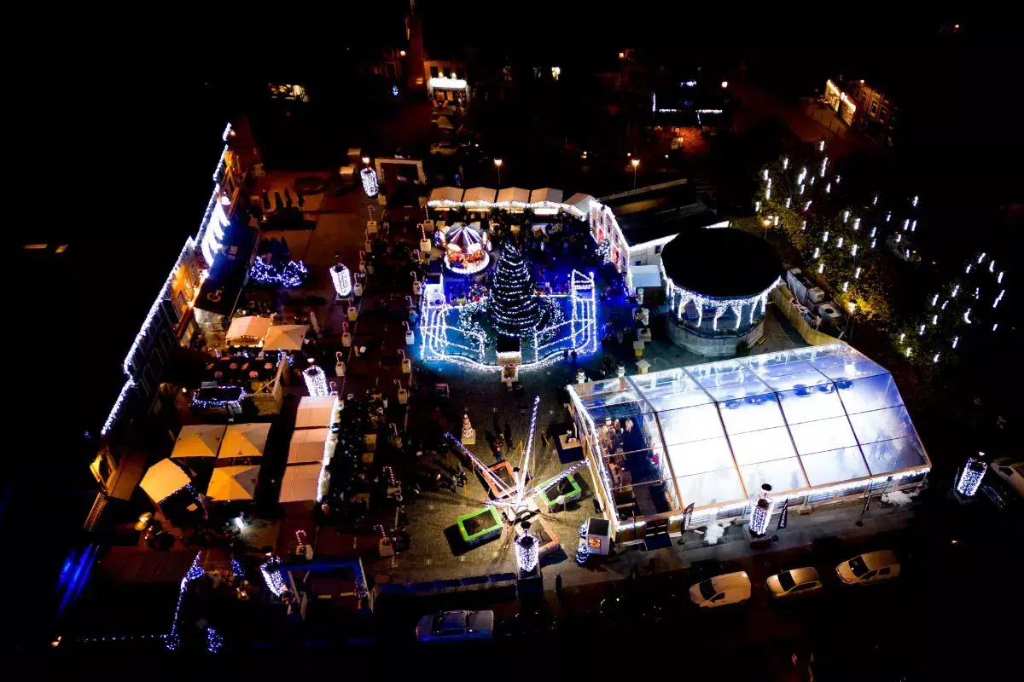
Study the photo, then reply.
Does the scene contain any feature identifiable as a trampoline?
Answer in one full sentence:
Yes, a trampoline can be made out from above.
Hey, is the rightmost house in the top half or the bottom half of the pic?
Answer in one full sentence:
You can find the rightmost house in the top half.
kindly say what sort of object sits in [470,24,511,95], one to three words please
house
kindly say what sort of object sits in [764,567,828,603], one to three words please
car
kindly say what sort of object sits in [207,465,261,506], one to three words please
umbrella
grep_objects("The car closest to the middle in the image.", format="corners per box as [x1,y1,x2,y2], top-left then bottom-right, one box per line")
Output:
[430,140,463,157]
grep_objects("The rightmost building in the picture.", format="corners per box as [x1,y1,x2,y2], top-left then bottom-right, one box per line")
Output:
[862,53,956,145]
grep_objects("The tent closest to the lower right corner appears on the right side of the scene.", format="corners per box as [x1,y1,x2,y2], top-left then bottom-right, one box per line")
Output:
[567,341,935,564]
